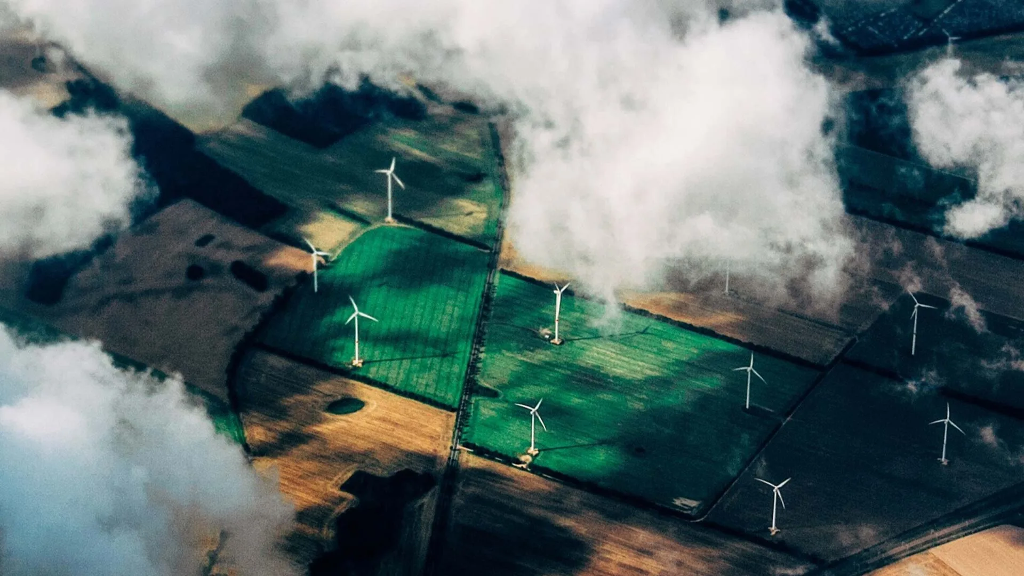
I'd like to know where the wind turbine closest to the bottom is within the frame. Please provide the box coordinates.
[757,477,790,530]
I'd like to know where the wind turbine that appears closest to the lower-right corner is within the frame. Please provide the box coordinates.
[929,401,966,462]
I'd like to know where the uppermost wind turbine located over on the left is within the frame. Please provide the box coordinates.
[376,158,404,219]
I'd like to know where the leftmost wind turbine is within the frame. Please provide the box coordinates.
[304,237,330,293]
